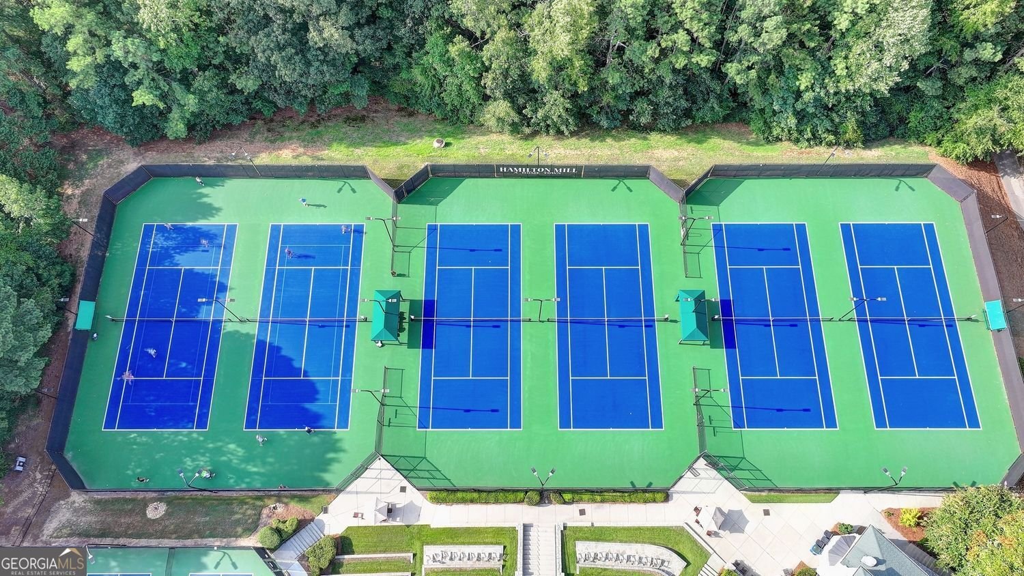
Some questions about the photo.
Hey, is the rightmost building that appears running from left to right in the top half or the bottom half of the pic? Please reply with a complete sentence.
The rightmost building that appears running from left to right is in the bottom half of the image.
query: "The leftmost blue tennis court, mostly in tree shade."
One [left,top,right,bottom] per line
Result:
[103,224,237,430]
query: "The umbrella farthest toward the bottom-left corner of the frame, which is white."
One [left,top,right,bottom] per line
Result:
[356,497,386,526]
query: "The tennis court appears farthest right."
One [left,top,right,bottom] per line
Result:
[840,223,981,429]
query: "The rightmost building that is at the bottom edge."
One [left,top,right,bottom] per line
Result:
[815,524,930,576]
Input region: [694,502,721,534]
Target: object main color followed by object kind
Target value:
white umbrella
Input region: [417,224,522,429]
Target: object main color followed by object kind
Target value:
blue tennis court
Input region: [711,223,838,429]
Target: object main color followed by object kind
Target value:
blue tennis court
